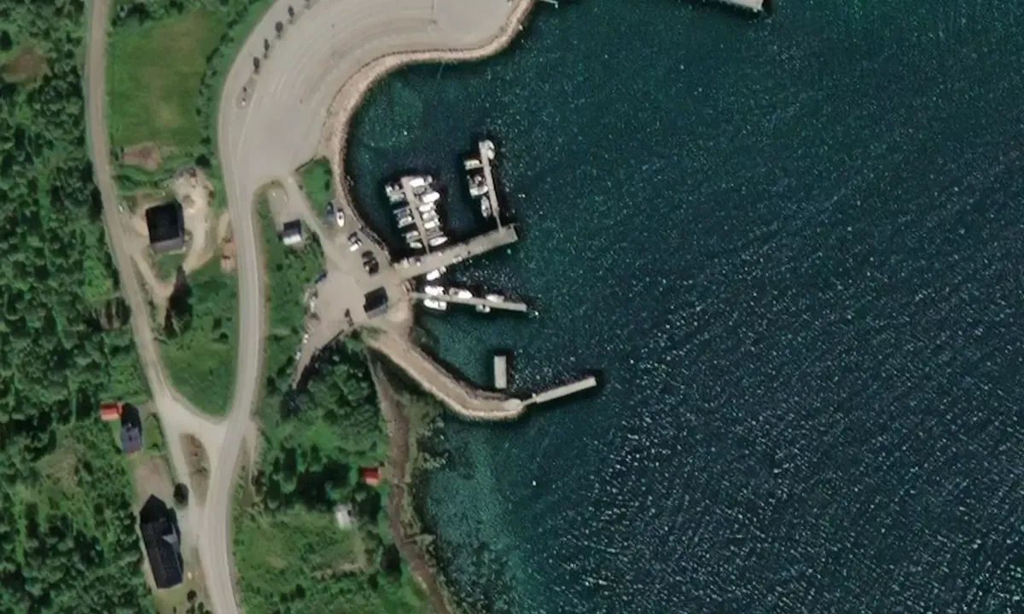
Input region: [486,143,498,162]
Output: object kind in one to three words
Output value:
boat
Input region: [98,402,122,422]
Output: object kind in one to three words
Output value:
shed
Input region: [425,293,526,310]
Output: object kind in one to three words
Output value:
pier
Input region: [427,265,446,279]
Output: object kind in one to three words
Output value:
boat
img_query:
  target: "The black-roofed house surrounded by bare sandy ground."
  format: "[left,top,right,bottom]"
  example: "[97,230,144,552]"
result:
[144,215,182,253]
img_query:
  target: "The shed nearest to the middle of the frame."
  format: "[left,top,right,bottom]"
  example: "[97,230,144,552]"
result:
[363,297,388,318]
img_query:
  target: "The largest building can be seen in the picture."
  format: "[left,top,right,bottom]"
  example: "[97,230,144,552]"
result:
[138,519,183,592]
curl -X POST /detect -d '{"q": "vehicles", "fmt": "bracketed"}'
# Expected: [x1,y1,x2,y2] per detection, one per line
[347,233,362,244]
[349,241,362,251]
[314,271,327,284]
[363,256,378,268]
[367,262,381,273]
[360,250,375,260]
[326,202,333,217]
